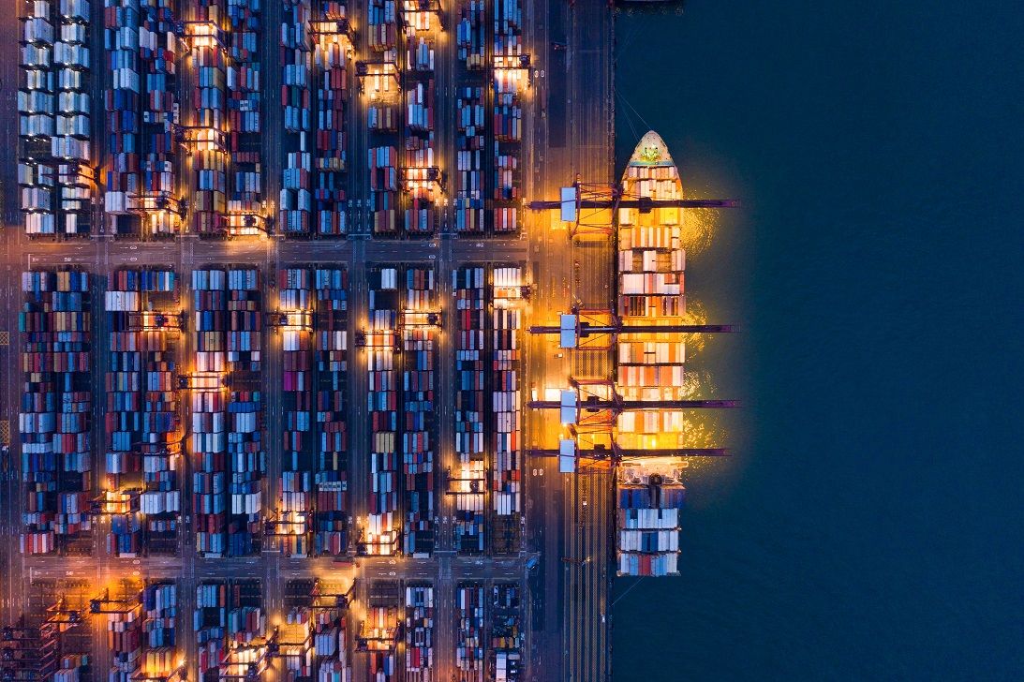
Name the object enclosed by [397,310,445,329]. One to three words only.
container crane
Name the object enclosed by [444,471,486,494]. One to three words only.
container crane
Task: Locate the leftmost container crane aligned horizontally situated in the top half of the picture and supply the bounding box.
[35,161,100,186]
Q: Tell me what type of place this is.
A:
port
